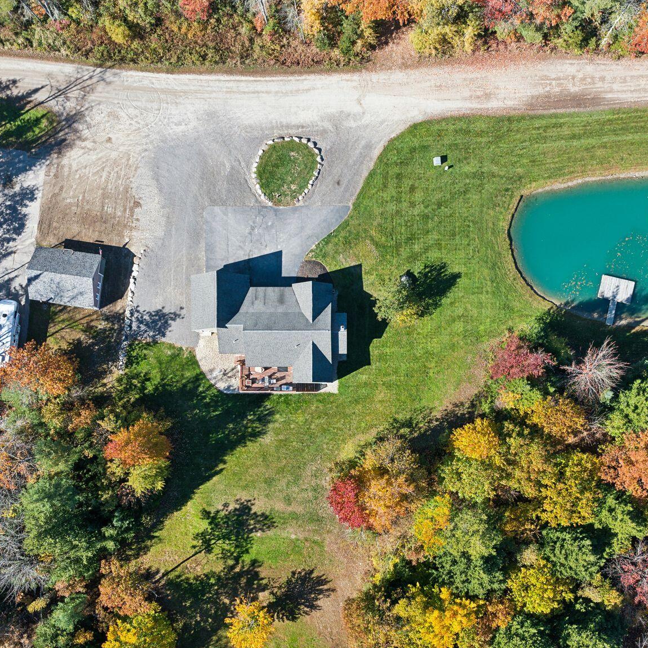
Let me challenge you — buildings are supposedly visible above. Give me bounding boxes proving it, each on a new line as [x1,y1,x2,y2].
[189,272,347,382]
[26,246,106,308]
